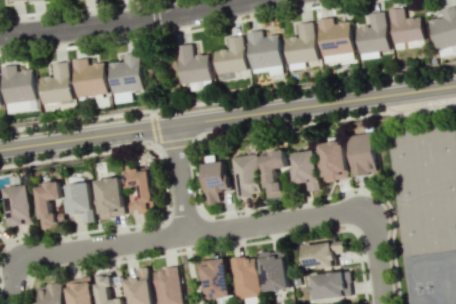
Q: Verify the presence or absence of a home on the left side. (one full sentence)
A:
Yes, on the left side there is a home.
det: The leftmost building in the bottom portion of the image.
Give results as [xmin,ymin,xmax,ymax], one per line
[0,186,33,228]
